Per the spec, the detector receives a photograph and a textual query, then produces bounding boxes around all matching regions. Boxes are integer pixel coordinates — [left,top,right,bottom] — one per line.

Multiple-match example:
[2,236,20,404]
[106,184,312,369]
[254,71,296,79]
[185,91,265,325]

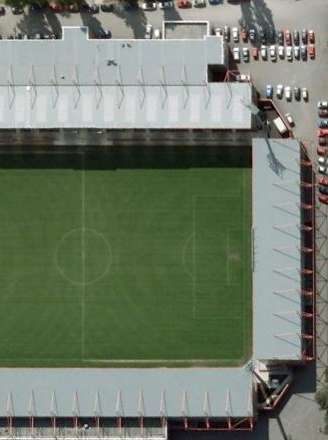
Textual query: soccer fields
[0,146,253,368]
